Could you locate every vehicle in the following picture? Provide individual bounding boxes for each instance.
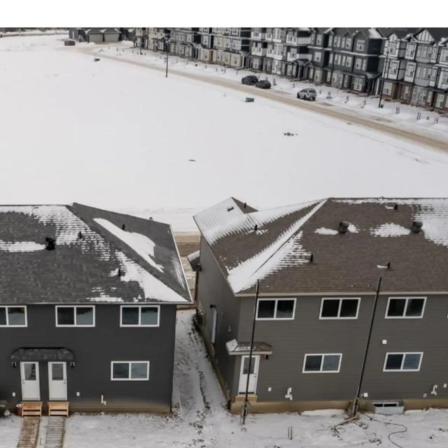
[241,73,261,83]
[255,77,275,88]
[294,86,321,100]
